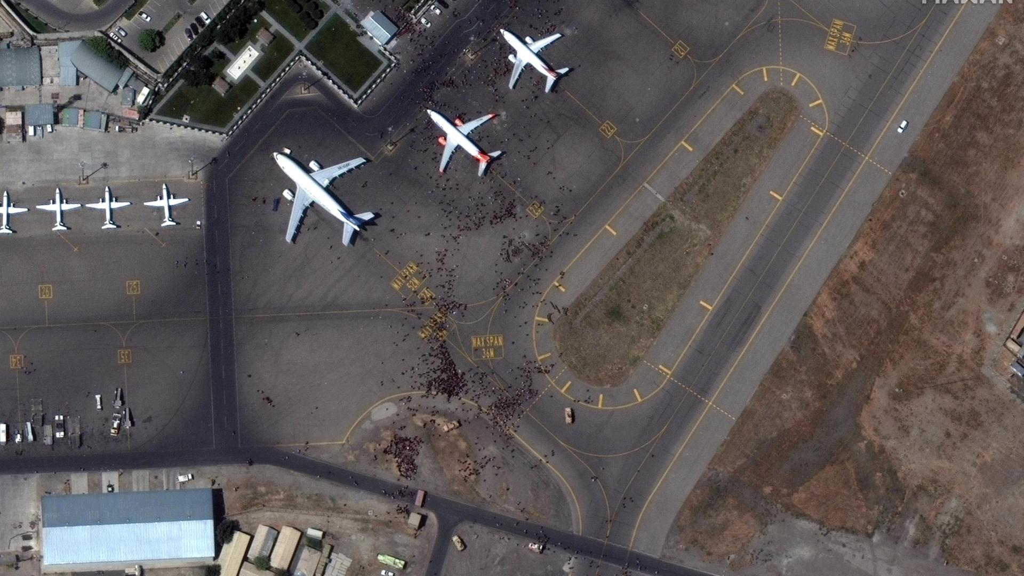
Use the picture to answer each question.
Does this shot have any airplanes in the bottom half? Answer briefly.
No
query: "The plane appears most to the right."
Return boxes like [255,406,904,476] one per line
[500,29,569,91]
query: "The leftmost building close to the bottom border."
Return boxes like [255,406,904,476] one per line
[42,488,214,571]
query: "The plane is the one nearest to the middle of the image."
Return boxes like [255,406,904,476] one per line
[427,110,502,174]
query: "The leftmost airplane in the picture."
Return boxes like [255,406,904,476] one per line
[0,191,28,231]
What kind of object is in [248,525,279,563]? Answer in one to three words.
shed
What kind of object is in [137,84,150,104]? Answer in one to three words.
vehicle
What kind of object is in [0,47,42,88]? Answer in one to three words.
building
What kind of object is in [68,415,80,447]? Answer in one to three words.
vehicle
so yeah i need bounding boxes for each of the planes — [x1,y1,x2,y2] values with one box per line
[36,188,81,228]
[0,191,28,231]
[427,110,502,174]
[273,153,374,245]
[500,29,569,91]
[85,186,130,226]
[144,183,189,224]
